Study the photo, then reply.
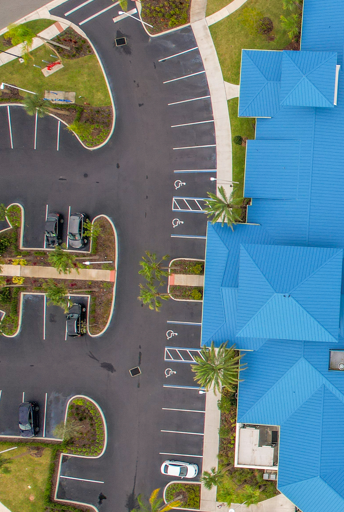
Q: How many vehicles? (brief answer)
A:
five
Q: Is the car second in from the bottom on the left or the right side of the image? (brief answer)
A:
left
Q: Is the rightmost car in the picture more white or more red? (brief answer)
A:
white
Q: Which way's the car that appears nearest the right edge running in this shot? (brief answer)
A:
from left to right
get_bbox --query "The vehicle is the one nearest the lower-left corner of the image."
[11,403,34,440]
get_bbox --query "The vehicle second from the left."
[37,212,59,249]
